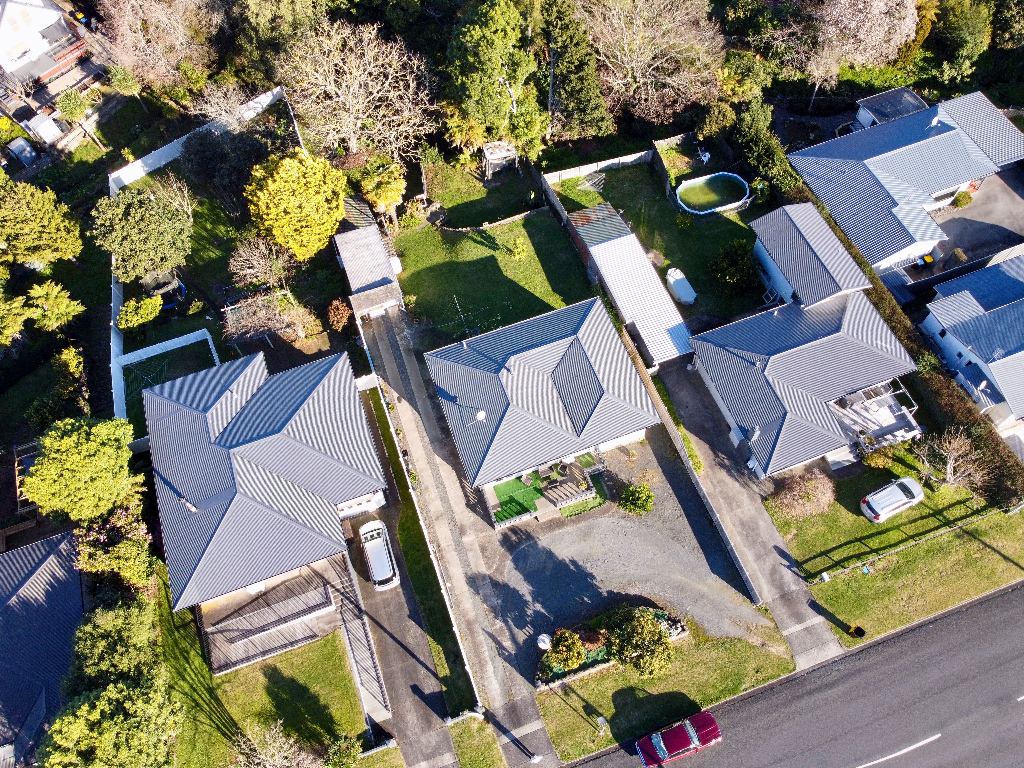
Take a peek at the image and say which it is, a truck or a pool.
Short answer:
pool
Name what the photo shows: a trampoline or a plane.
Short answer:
trampoline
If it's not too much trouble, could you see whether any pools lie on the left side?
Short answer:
No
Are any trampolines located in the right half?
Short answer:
No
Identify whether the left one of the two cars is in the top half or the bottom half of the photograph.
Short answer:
bottom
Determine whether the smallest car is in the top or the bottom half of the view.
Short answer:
bottom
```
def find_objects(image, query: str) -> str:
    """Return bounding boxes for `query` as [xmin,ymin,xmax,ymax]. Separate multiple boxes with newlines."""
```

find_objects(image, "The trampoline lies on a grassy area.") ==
[139,267,191,315]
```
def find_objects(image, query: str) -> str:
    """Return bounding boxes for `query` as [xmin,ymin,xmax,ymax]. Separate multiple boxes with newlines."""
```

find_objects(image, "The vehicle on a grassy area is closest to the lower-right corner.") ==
[860,478,922,524]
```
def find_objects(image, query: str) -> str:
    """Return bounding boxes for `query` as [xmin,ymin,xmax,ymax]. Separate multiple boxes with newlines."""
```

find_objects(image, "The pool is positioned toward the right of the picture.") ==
[674,172,749,222]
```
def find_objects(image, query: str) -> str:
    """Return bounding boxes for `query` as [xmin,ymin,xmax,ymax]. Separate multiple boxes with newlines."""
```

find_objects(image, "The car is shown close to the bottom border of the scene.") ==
[635,710,724,768]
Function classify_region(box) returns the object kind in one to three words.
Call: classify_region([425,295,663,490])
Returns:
house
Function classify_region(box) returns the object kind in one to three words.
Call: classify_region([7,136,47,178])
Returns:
shed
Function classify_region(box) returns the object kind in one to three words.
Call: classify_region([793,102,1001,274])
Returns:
house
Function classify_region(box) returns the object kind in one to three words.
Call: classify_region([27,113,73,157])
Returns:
shed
